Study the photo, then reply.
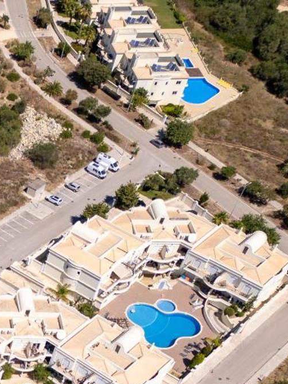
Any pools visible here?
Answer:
Yes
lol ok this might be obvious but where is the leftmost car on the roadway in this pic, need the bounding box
[44,194,62,206]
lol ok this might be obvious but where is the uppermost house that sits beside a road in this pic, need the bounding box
[76,0,190,102]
